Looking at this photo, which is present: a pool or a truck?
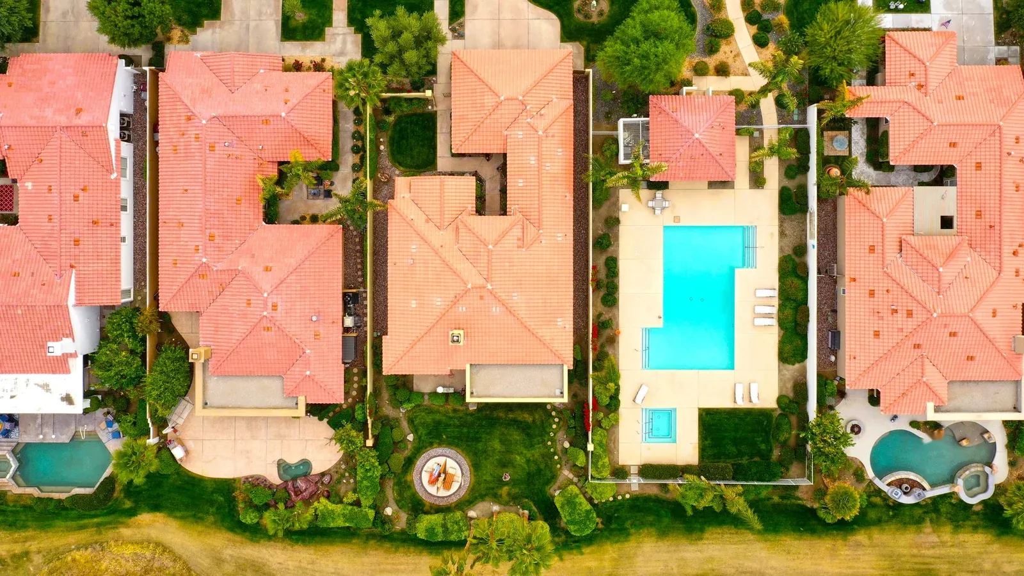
pool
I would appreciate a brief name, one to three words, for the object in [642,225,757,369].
swimming pool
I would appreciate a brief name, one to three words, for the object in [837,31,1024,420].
house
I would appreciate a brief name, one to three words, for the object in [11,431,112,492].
swimming pool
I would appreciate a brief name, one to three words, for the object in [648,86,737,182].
building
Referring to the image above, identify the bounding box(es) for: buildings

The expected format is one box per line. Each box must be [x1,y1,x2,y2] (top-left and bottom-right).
[0,52,140,414]
[648,86,737,182]
[382,49,574,402]
[837,31,1024,420]
[157,50,345,416]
